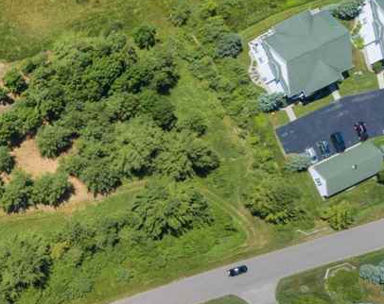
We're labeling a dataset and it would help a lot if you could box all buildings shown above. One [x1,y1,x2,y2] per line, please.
[307,141,383,196]
[251,6,354,98]
[353,0,384,62]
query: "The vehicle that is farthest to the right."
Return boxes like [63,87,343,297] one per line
[353,119,370,142]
